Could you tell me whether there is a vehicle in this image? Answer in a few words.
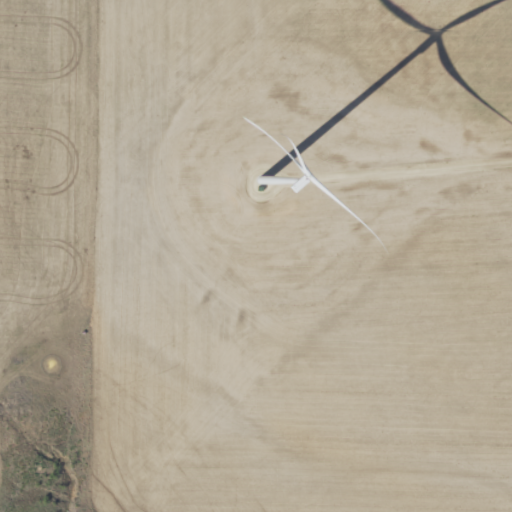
No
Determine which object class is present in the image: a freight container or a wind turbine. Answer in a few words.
wind turbine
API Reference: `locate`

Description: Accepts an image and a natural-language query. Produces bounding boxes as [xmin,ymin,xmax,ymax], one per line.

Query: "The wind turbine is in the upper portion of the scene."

[244,117,389,255]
